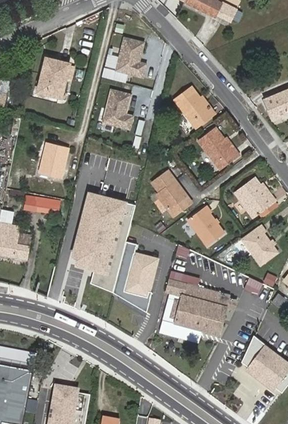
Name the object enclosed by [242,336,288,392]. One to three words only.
building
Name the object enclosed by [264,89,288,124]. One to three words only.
house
